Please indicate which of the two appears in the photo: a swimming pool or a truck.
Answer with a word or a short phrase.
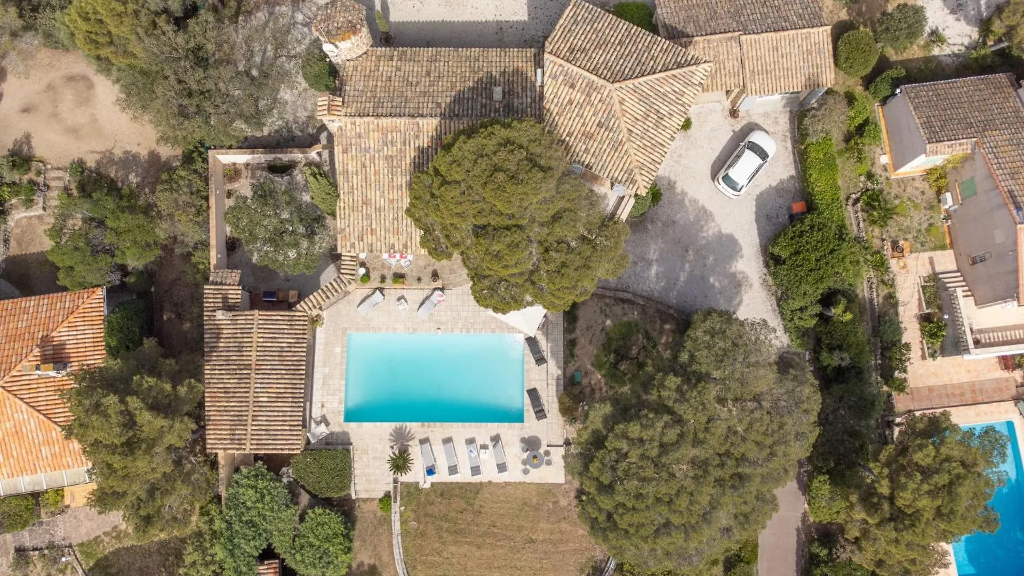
swimming pool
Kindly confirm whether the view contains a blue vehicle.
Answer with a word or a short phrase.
No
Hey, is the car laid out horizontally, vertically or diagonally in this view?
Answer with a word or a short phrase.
diagonally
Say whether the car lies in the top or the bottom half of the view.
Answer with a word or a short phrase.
top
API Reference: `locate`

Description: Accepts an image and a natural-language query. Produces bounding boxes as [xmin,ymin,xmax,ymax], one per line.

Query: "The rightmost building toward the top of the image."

[880,71,1024,306]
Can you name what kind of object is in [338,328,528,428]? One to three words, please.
swimming pool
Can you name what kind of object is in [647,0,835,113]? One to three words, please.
building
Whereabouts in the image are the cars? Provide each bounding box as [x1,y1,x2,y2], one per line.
[716,130,776,200]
